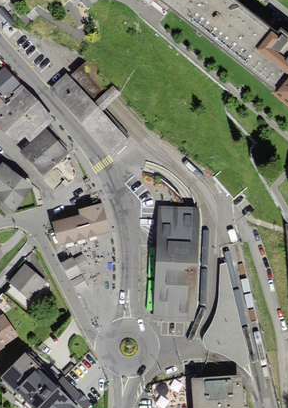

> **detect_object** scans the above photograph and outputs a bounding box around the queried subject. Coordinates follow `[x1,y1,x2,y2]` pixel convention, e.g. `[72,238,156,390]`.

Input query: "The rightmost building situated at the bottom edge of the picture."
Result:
[191,376,249,408]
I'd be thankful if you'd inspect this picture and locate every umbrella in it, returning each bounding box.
[156,384,168,396]
[170,379,184,392]
[156,396,170,408]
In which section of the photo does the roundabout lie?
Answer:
bottom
